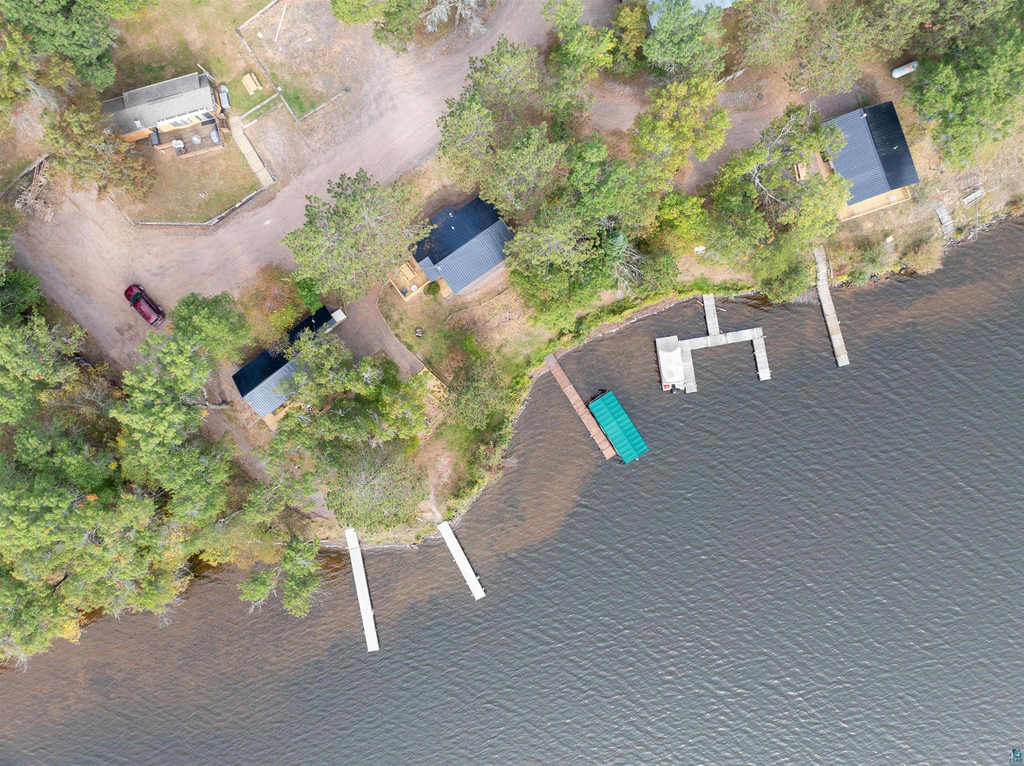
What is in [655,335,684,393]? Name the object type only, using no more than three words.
boat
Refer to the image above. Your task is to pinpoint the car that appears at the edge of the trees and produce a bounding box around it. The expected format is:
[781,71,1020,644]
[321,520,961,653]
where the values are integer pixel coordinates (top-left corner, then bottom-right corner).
[127,281,168,328]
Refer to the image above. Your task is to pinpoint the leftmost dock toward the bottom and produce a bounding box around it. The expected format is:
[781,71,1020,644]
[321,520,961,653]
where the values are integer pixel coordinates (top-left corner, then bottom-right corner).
[346,537,381,654]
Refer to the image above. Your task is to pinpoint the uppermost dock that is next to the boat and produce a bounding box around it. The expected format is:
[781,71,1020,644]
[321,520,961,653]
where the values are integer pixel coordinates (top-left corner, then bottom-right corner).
[679,294,772,394]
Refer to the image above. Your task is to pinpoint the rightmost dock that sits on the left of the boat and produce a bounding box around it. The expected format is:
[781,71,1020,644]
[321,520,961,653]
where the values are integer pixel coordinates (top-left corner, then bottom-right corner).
[545,354,617,460]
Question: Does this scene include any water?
Yes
